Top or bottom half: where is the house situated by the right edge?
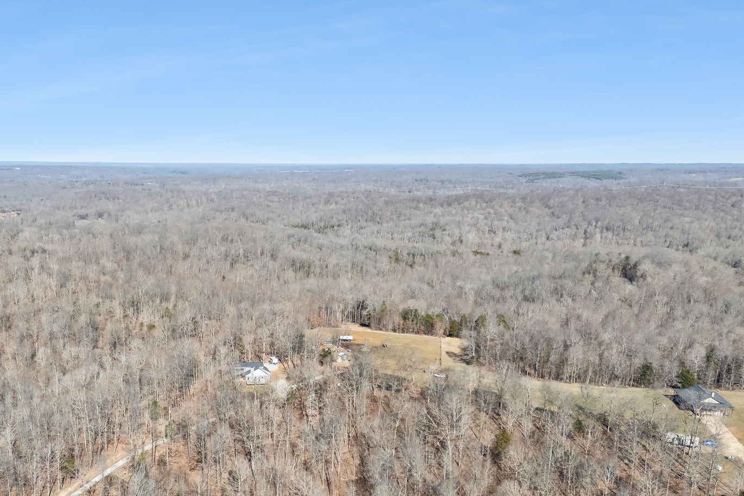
bottom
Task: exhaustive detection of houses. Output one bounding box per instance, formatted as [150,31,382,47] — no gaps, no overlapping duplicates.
[673,386,736,418]
[227,359,272,386]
